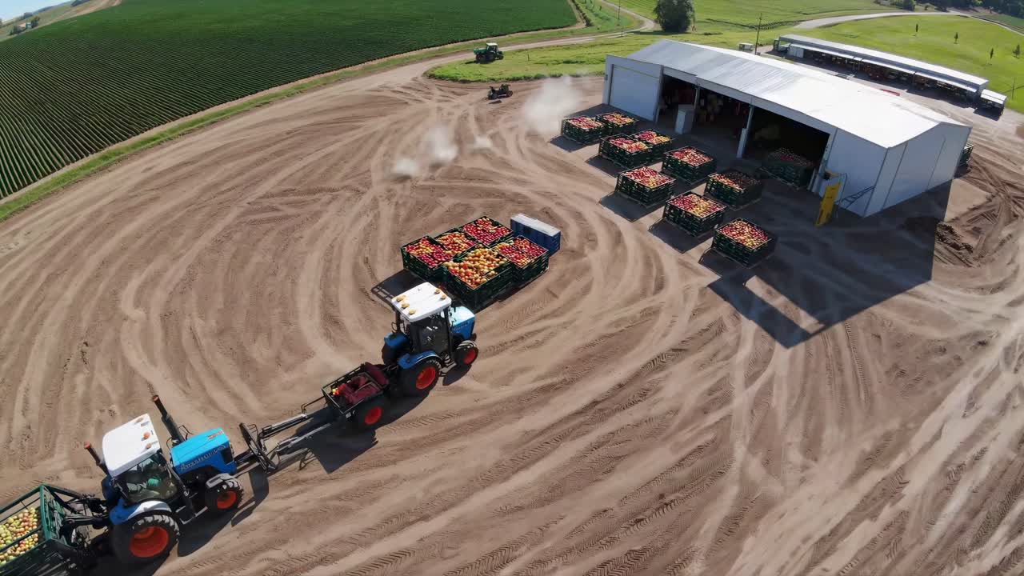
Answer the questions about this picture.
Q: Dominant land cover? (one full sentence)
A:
For the most part, this view shows paved ground.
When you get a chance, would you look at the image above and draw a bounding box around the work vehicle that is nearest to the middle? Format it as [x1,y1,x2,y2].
[375,286,474,391]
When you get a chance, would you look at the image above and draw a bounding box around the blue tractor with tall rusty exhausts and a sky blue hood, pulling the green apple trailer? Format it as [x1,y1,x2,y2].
[72,402,247,556]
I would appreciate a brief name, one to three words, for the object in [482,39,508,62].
work vehicle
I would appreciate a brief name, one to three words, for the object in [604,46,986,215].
barn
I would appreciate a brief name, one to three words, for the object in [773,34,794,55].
truck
